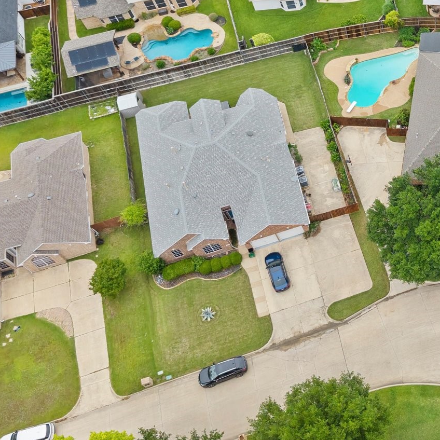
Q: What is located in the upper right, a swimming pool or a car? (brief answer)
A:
swimming pool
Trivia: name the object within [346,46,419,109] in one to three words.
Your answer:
swimming pool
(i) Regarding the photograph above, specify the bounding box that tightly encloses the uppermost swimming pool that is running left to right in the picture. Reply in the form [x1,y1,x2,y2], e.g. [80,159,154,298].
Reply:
[139,26,216,61]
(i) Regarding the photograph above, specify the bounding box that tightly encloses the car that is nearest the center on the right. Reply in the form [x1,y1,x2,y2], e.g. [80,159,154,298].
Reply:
[264,250,293,296]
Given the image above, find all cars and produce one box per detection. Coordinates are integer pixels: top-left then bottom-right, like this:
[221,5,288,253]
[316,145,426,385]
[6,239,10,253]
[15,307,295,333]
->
[1,419,59,440]
[264,250,293,296]
[197,353,253,390]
